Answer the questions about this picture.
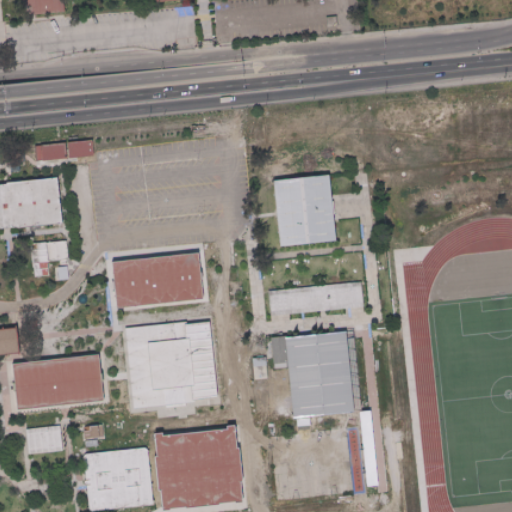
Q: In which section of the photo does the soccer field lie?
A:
bottom right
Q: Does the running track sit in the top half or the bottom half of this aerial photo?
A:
bottom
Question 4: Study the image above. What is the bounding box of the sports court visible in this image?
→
[274,432,350,500]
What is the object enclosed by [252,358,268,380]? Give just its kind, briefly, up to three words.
shed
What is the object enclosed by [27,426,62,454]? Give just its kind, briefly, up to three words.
building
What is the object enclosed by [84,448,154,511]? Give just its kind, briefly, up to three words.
building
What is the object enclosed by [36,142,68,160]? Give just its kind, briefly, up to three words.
shed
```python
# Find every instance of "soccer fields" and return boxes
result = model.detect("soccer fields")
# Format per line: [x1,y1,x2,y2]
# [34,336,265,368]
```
[428,294,512,507]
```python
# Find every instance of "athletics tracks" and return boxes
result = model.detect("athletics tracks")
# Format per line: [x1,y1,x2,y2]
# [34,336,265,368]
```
[404,221,512,512]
